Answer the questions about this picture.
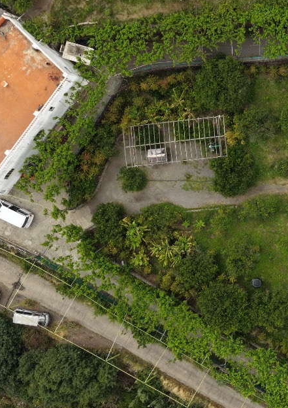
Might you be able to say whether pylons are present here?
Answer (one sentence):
No, I can't see a single pylon in this photo.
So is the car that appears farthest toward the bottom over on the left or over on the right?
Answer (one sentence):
The car that appears farthest toward the bottom is on the left side of the image.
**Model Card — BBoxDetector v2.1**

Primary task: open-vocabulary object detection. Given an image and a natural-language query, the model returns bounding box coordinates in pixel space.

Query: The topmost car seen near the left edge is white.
[0,197,40,231]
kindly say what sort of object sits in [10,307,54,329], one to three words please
car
